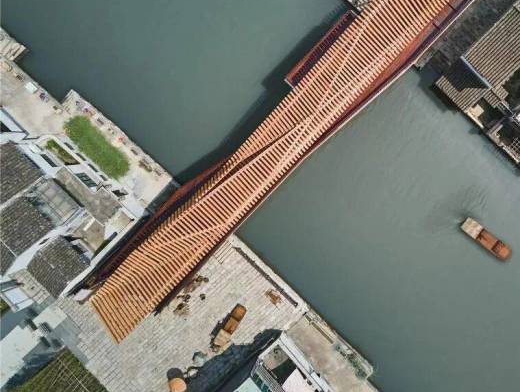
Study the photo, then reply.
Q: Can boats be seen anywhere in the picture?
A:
Yes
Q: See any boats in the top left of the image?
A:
No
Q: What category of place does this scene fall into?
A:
residential area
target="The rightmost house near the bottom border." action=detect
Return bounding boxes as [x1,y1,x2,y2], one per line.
[225,316,350,392]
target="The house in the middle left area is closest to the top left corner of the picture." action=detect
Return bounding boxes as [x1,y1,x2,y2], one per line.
[0,142,58,203]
